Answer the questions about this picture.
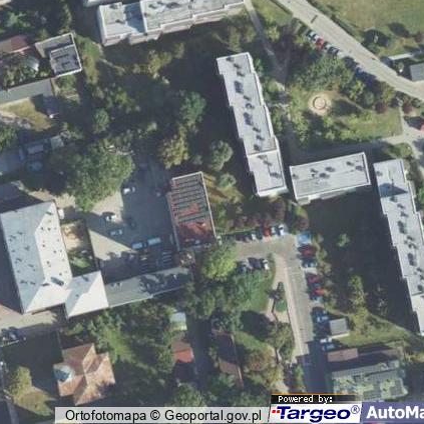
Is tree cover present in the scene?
Yes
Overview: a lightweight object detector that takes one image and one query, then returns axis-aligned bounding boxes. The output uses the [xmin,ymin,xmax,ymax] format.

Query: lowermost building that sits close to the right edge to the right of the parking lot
[330,359,408,409]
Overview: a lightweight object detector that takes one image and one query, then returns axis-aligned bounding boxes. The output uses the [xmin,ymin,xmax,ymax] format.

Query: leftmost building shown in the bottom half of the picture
[0,201,76,317]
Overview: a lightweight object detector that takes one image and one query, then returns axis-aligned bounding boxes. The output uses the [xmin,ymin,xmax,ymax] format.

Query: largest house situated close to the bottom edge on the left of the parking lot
[52,343,115,406]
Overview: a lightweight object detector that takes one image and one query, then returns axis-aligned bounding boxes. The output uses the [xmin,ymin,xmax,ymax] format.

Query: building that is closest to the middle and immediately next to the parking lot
[168,171,216,253]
